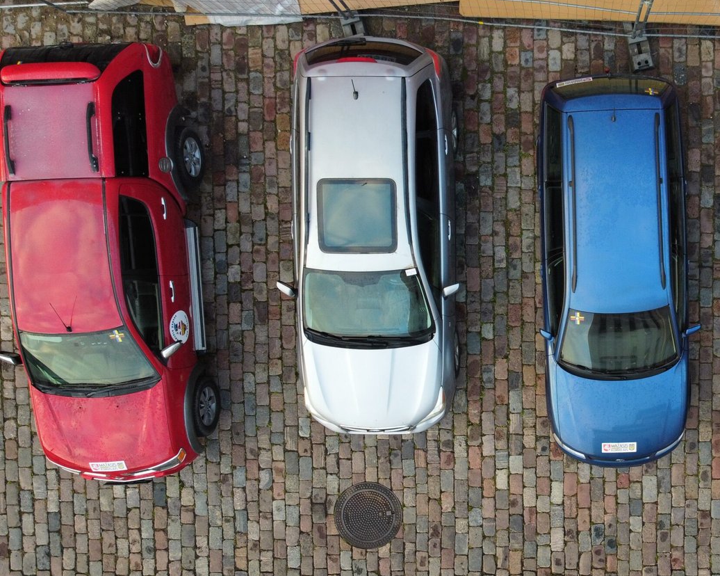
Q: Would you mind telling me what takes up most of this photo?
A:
paved ground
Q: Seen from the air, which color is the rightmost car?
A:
blue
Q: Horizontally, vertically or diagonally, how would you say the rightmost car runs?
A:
vertically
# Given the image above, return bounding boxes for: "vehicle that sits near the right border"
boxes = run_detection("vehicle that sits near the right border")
[534,66,703,468]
